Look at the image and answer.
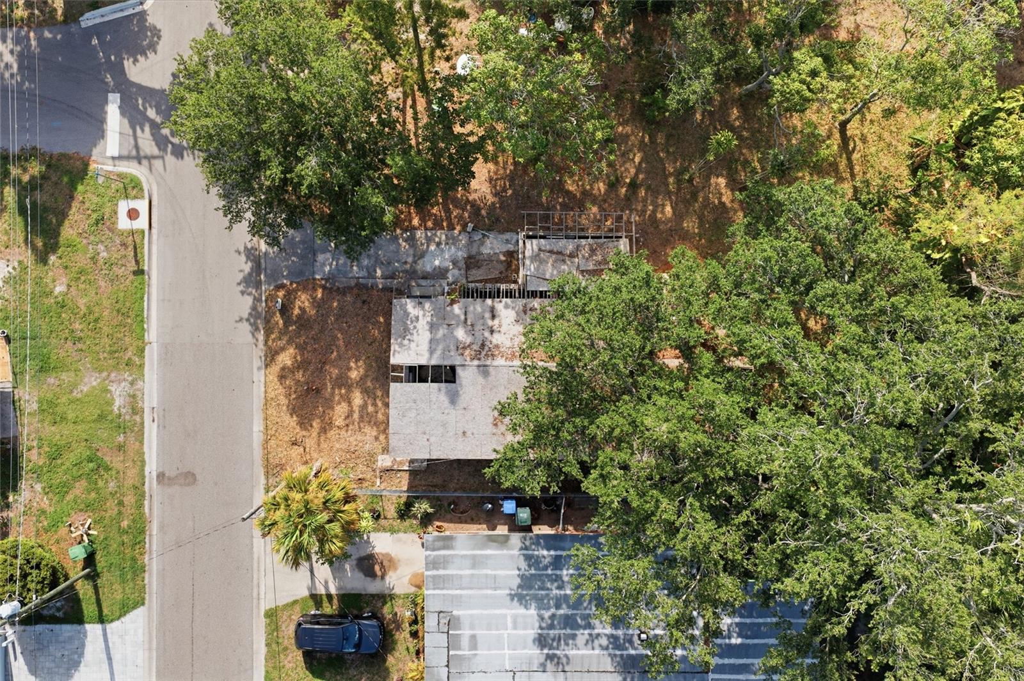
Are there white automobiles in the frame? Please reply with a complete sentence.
No, there appears to be no white automobile in this shot.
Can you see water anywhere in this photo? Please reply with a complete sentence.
No, the picture contains no water.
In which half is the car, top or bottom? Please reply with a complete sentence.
The car sits in the bottom half of the picture.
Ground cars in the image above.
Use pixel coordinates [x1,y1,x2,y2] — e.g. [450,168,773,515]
[295,613,386,661]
